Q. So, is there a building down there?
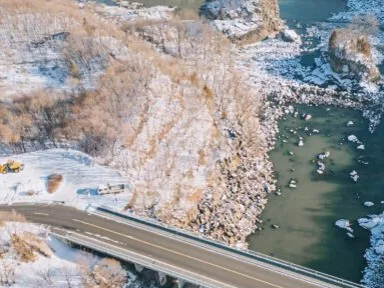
No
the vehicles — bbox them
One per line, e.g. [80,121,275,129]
[98,180,124,194]
[0,157,28,174]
